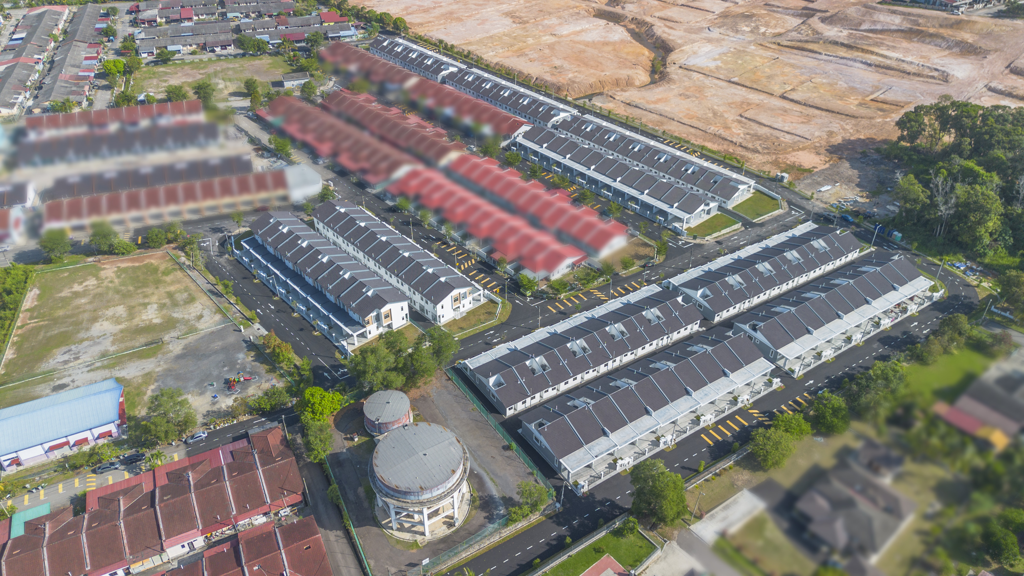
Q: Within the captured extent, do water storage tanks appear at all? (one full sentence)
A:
Yes, there is a water storage tank in the image.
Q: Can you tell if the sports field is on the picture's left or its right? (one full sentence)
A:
The sports field is on the left side of the image.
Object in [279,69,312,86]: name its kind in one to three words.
building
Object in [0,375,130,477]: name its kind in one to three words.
building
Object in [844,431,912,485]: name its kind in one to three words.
house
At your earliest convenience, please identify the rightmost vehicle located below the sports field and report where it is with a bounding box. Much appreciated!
[185,432,207,445]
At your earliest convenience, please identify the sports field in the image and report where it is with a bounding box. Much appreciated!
[0,251,233,386]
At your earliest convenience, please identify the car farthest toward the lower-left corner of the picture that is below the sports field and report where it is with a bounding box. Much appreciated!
[95,462,119,475]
